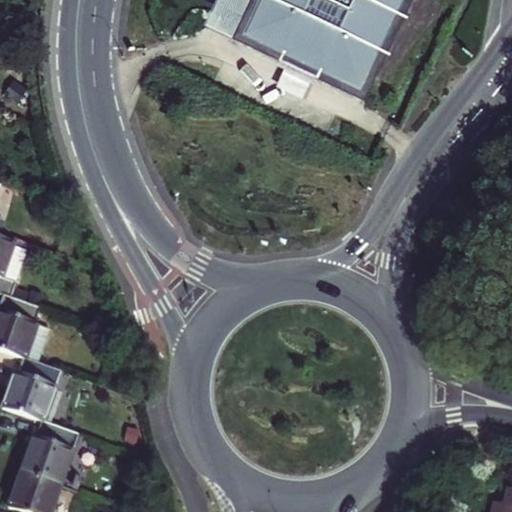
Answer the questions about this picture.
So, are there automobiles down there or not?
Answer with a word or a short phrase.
Yes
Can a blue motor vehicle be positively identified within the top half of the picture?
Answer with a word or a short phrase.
No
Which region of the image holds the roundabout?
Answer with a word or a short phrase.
bottom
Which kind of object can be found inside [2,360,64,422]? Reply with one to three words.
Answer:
house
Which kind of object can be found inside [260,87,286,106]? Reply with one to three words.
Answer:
vehicle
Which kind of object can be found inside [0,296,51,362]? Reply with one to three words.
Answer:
house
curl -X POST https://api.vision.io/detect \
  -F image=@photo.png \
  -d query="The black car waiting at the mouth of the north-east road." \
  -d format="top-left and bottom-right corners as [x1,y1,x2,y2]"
[346,236,362,256]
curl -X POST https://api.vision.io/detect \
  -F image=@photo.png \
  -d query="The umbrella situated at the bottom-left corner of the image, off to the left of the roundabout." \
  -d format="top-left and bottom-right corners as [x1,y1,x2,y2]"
[81,452,95,466]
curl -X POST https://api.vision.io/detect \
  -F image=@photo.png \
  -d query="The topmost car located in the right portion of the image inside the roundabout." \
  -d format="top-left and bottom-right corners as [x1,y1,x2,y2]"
[317,280,340,296]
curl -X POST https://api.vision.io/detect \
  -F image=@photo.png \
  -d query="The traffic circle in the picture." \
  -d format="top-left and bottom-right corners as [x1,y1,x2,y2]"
[152,261,428,512]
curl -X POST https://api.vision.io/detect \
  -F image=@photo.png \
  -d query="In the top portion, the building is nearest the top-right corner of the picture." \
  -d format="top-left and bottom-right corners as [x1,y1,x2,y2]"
[236,0,410,98]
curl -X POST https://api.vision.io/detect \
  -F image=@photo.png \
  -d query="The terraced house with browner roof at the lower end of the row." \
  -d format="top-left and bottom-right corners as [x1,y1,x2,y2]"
[6,471,63,512]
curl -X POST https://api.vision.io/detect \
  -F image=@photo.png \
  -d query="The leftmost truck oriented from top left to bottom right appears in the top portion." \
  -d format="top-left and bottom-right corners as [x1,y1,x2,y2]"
[240,63,268,92]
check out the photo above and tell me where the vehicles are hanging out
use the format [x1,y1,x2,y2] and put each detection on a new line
[317,280,340,296]
[240,63,268,92]
[346,236,362,256]
[342,493,356,512]
[260,87,286,106]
